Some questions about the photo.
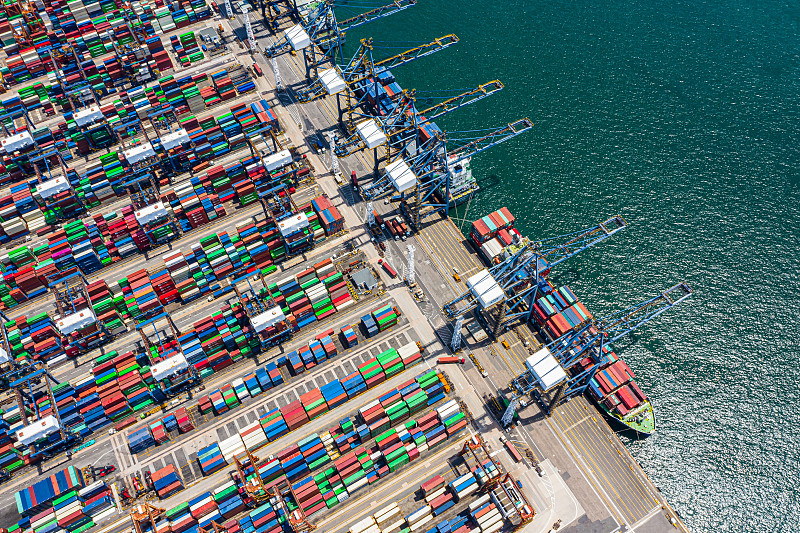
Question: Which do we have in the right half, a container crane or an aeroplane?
container crane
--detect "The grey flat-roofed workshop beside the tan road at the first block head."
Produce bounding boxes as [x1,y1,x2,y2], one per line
[352,266,377,290]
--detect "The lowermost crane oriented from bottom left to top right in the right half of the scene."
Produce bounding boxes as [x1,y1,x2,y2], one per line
[503,280,696,418]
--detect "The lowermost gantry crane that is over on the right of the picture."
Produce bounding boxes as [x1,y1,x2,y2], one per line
[491,472,537,530]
